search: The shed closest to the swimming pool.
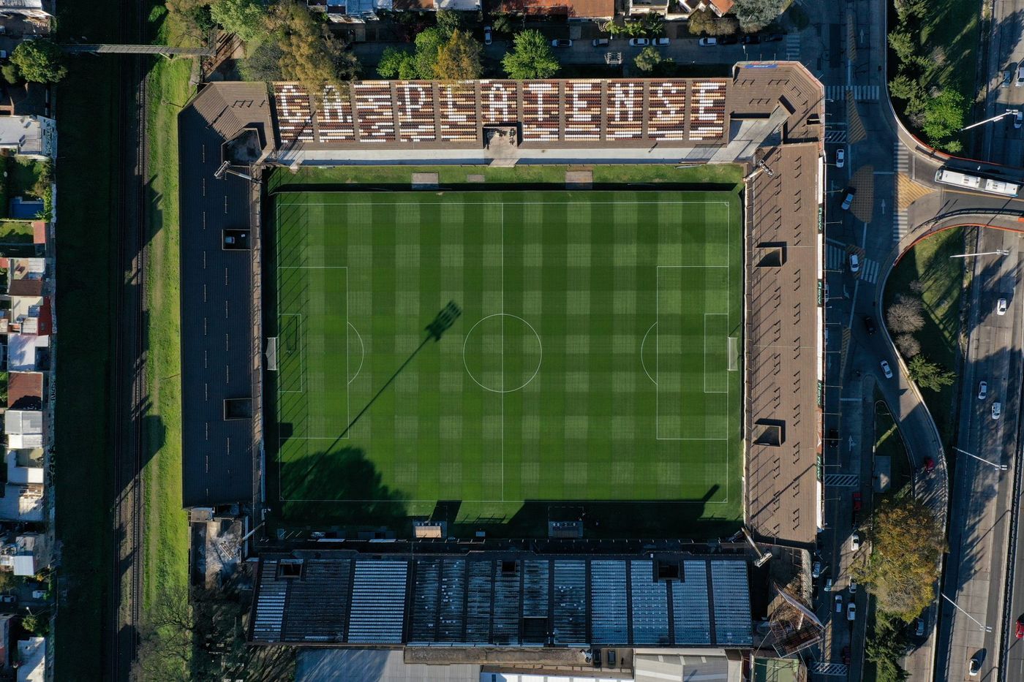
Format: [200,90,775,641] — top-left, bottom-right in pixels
[33,222,53,245]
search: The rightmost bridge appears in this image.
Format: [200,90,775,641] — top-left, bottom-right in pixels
[894,145,1024,265]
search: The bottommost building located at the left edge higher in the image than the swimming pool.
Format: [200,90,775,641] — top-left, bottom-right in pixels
[0,115,53,162]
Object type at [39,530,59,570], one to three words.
house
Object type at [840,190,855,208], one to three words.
car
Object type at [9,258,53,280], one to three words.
house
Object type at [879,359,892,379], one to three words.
vehicle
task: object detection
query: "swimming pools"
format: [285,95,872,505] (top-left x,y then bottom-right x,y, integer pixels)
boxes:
[10,197,46,219]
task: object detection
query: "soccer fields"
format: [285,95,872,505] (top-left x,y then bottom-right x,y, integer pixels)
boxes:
[277,202,730,520]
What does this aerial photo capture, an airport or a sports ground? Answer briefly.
sports ground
